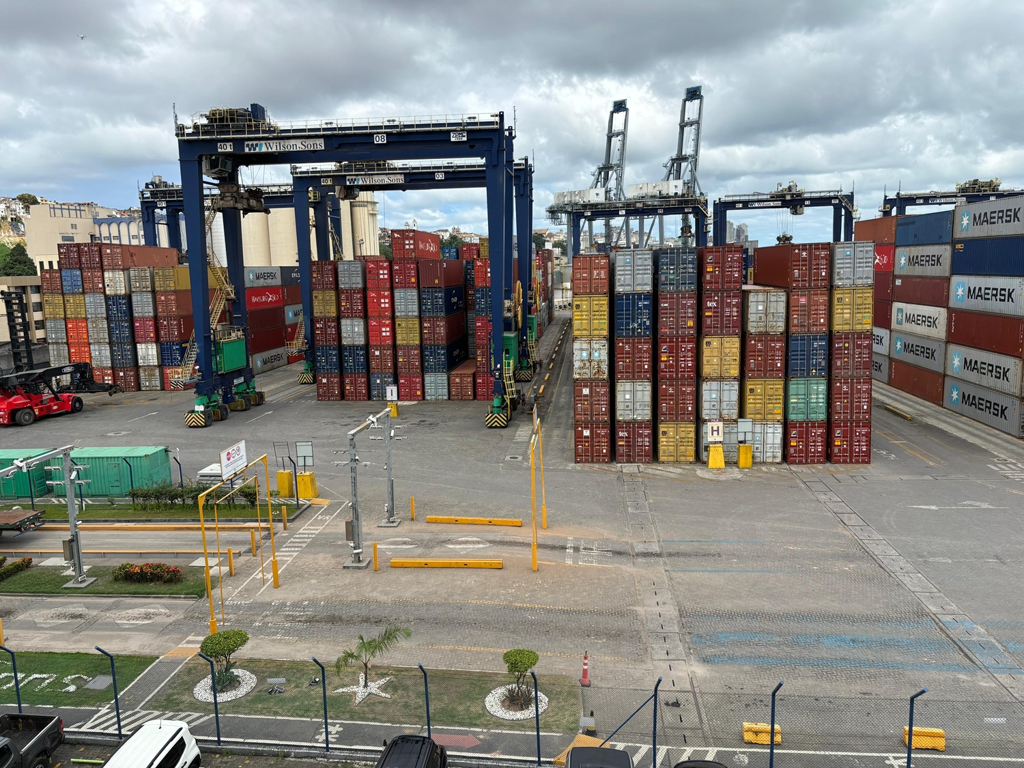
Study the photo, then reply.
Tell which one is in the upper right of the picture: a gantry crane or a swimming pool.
gantry crane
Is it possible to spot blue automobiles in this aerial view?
No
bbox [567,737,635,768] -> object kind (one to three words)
car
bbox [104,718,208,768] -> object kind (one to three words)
car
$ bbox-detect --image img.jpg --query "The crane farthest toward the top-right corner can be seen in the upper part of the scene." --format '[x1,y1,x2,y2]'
[870,173,1024,244]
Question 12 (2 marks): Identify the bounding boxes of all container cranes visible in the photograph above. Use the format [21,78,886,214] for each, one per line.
[277,140,561,383]
[574,185,727,256]
[605,86,702,250]
[870,173,1024,244]
[166,102,551,427]
[710,181,873,247]
[536,98,623,268]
